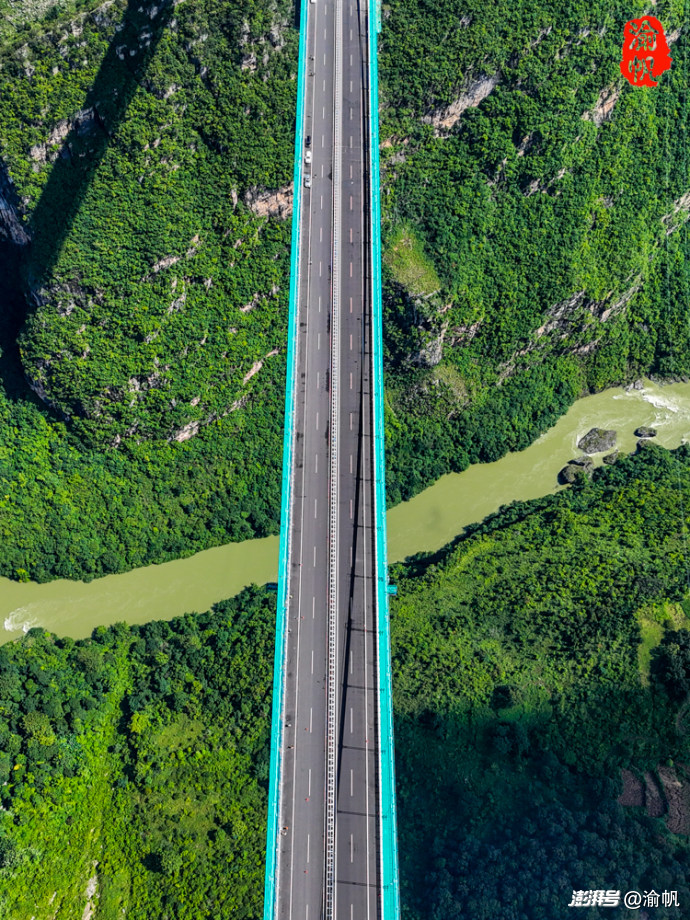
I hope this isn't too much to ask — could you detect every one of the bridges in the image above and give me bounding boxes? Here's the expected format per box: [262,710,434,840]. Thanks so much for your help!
[262,0,399,920]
